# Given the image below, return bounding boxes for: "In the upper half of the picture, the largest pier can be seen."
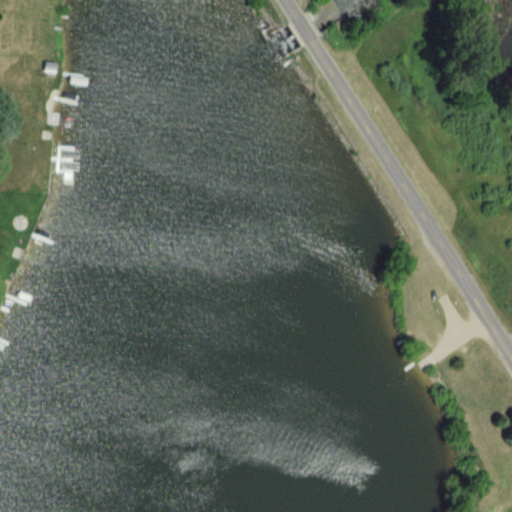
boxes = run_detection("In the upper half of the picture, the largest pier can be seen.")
[50,144,76,175]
